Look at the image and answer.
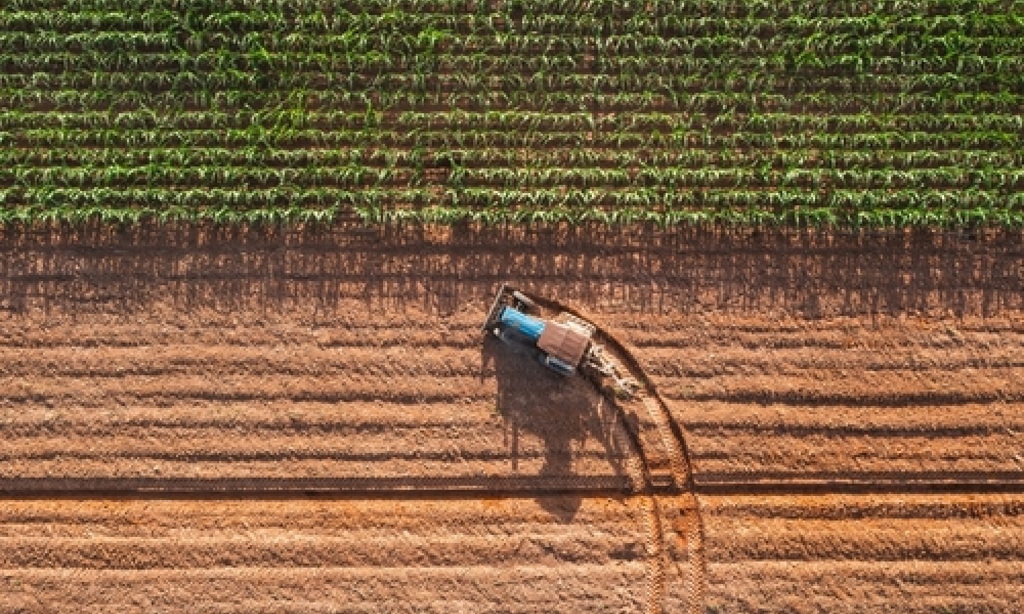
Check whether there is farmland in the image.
Yes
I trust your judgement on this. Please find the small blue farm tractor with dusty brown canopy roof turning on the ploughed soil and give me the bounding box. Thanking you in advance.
[483,284,598,377]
